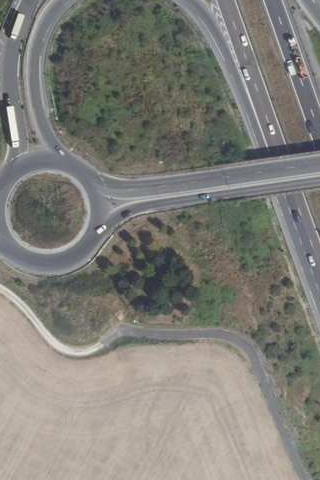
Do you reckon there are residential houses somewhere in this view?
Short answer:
No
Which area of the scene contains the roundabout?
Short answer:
left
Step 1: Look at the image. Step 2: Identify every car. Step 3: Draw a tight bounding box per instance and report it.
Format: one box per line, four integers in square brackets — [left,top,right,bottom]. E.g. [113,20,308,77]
[242,66,250,80]
[306,121,314,132]
[56,144,65,154]
[292,210,300,221]
[120,210,132,218]
[307,254,315,266]
[4,93,8,104]
[96,224,106,233]
[199,194,210,199]
[267,122,274,134]
[239,32,246,44]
